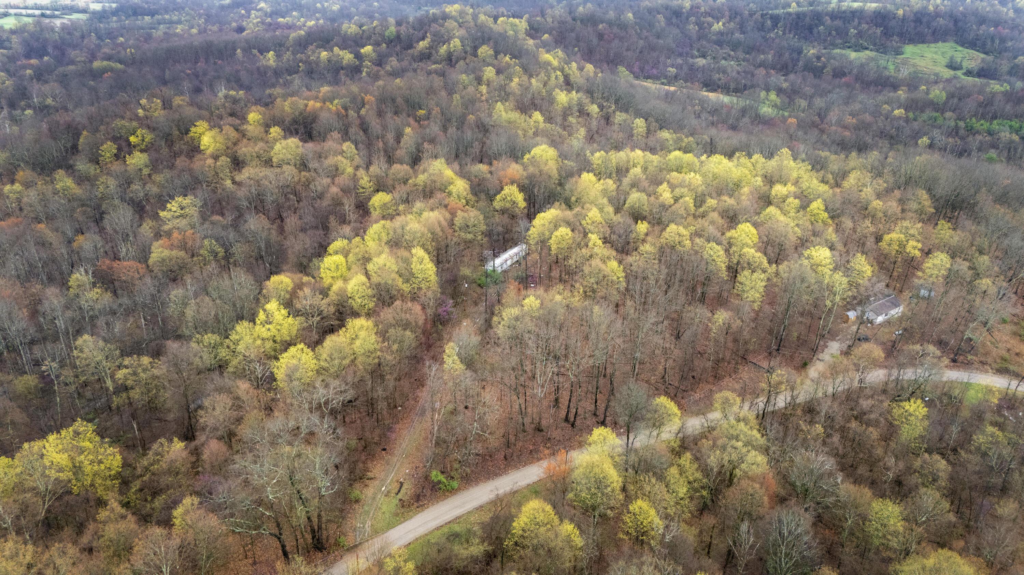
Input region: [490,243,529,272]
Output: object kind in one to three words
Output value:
house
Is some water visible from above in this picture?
No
